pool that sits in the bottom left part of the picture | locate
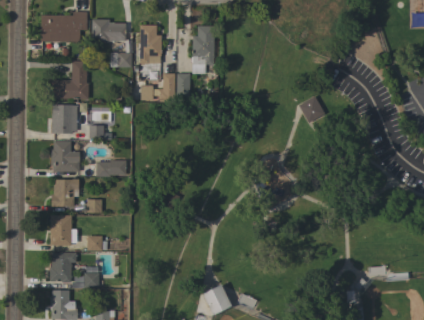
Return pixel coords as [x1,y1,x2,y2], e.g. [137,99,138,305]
[102,253,114,275]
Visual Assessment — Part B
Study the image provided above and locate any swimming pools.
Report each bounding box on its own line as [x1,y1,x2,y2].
[86,147,107,160]
[102,253,114,275]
